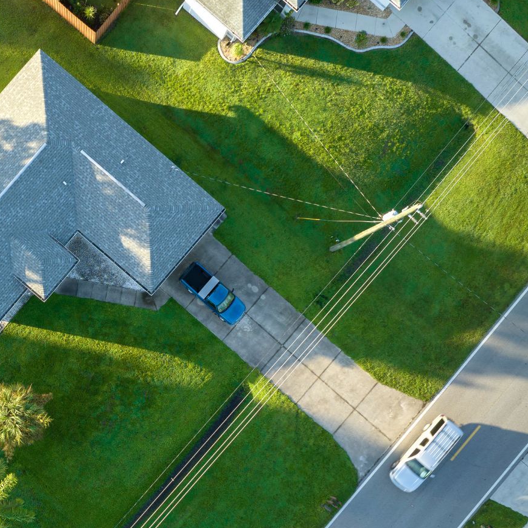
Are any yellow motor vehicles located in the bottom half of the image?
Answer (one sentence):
No, no yellow motor vehicle can be made out in the bottom half of the image.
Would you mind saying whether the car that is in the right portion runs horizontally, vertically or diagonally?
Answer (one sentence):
I'd say the car that is in the right portion is aligned diagonally in the picture.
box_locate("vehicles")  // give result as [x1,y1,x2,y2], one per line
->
[390,415,464,489]
[177,260,245,325]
